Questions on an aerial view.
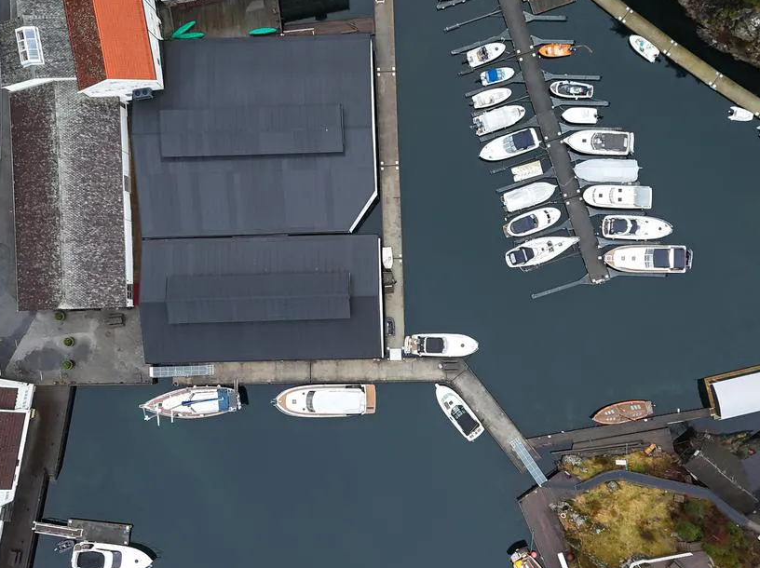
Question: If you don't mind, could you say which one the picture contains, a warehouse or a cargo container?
warehouse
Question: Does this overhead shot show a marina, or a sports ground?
marina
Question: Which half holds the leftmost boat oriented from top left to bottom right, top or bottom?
bottom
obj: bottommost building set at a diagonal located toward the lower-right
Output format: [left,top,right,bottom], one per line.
[679,438,758,516]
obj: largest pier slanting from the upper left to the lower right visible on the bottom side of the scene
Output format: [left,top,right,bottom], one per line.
[446,358,542,472]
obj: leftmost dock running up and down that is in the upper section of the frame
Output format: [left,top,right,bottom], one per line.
[376,0,405,351]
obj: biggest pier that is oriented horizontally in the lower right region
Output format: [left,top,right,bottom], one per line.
[529,406,712,455]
